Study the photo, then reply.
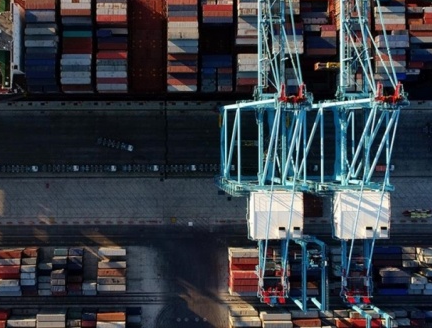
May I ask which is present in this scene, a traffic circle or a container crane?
container crane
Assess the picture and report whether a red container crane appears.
No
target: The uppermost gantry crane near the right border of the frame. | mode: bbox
[285,0,414,303]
